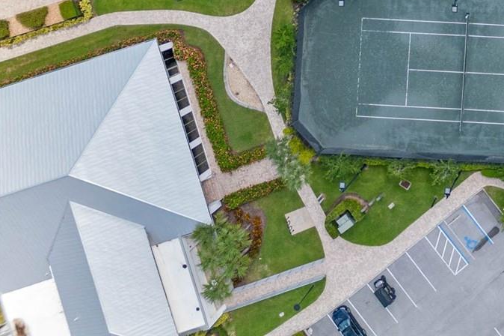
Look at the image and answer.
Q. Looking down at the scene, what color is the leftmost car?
blue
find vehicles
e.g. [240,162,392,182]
[333,307,368,336]
[375,280,396,309]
